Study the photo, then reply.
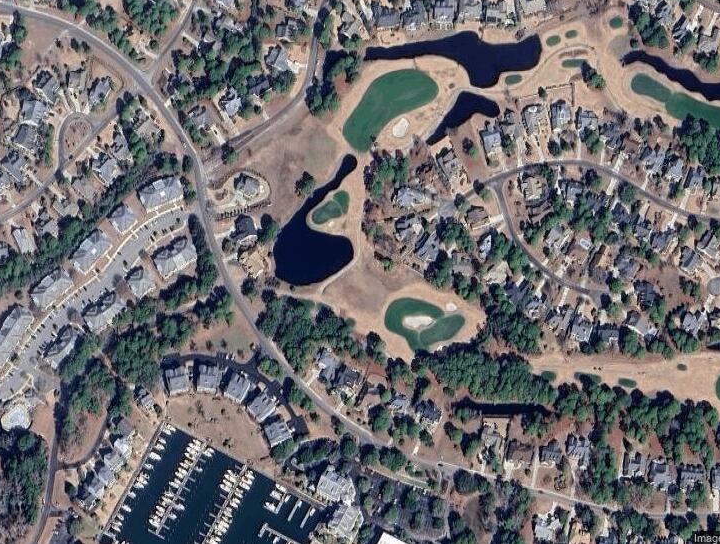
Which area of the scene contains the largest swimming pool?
bottom left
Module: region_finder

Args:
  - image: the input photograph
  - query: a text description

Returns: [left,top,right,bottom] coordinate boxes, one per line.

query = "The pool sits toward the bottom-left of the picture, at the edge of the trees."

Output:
[4,404,28,427]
